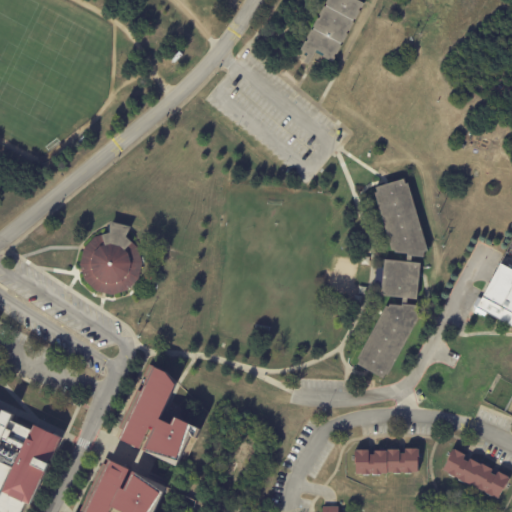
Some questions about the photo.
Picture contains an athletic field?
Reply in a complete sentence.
Yes, the picture does show an athletic field.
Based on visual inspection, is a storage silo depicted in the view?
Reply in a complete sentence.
No, I can see no storage silo in this picture.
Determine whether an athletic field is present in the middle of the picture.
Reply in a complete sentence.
Yes, you'll find an athletic field in the middle of the picture.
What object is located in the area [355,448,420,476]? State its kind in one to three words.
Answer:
house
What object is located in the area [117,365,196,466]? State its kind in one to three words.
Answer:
building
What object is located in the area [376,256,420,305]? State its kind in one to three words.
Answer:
building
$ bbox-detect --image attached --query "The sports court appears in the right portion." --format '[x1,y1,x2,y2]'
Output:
[330,256,358,283]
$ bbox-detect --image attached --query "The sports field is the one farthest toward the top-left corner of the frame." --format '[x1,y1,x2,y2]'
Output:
[0,0,106,130]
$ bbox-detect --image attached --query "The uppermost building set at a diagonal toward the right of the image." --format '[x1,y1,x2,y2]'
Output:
[302,0,366,63]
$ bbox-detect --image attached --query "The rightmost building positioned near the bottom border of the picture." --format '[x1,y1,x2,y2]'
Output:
[444,448,510,498]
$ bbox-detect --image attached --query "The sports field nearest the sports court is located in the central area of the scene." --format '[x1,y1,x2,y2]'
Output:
[234,197,336,353]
